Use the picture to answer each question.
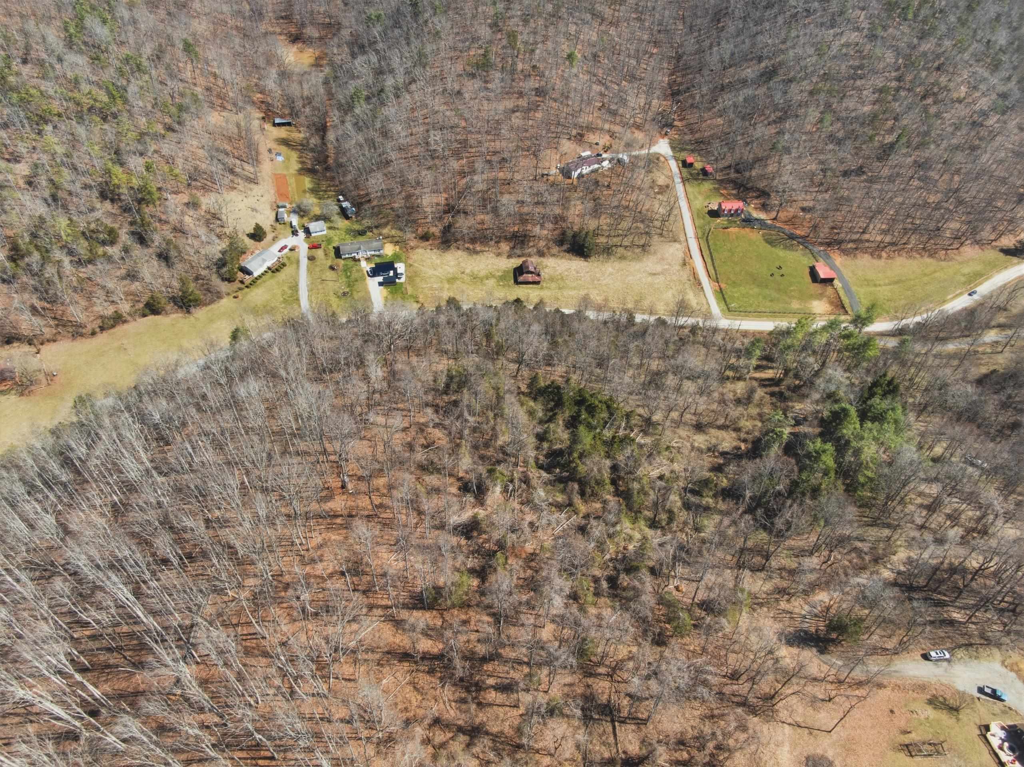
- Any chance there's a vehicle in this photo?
Yes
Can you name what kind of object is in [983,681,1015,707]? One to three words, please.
truck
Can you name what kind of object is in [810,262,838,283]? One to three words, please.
barn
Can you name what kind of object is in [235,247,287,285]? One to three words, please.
house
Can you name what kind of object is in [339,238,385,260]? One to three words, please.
house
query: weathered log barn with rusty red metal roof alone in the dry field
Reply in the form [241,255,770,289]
[519,254,541,282]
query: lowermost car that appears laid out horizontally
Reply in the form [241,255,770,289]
[927,649,955,662]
